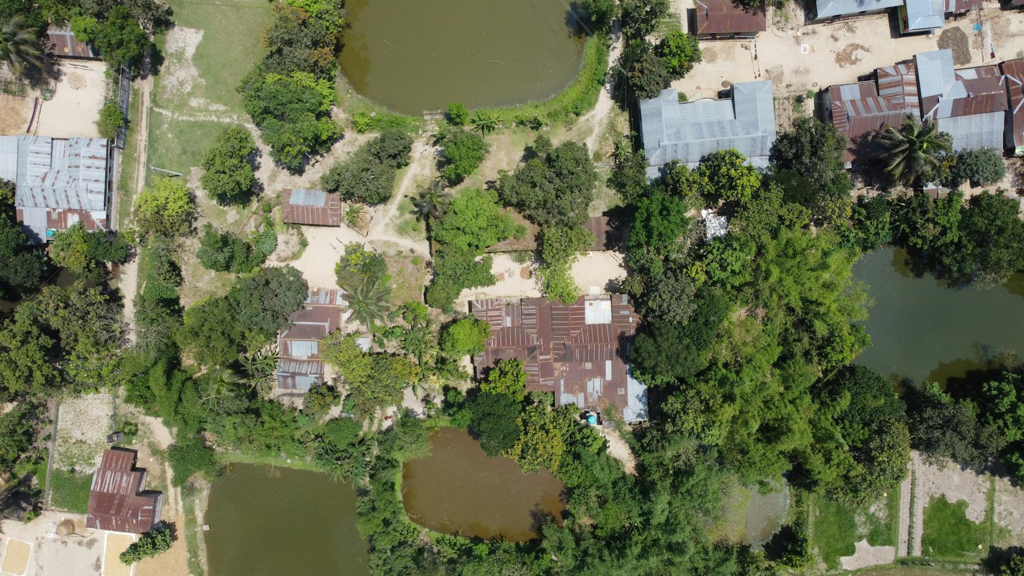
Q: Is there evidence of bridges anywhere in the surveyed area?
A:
No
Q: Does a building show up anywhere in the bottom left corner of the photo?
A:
Yes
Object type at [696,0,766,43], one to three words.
house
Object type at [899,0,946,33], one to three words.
house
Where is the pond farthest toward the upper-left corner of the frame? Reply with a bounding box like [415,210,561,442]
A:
[338,0,590,117]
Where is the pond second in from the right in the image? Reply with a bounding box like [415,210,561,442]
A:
[734,476,791,549]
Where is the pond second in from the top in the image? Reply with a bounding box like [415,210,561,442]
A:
[851,232,1024,393]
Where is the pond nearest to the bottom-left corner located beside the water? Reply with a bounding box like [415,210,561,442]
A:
[206,461,380,576]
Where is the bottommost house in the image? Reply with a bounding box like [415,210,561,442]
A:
[86,448,162,533]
